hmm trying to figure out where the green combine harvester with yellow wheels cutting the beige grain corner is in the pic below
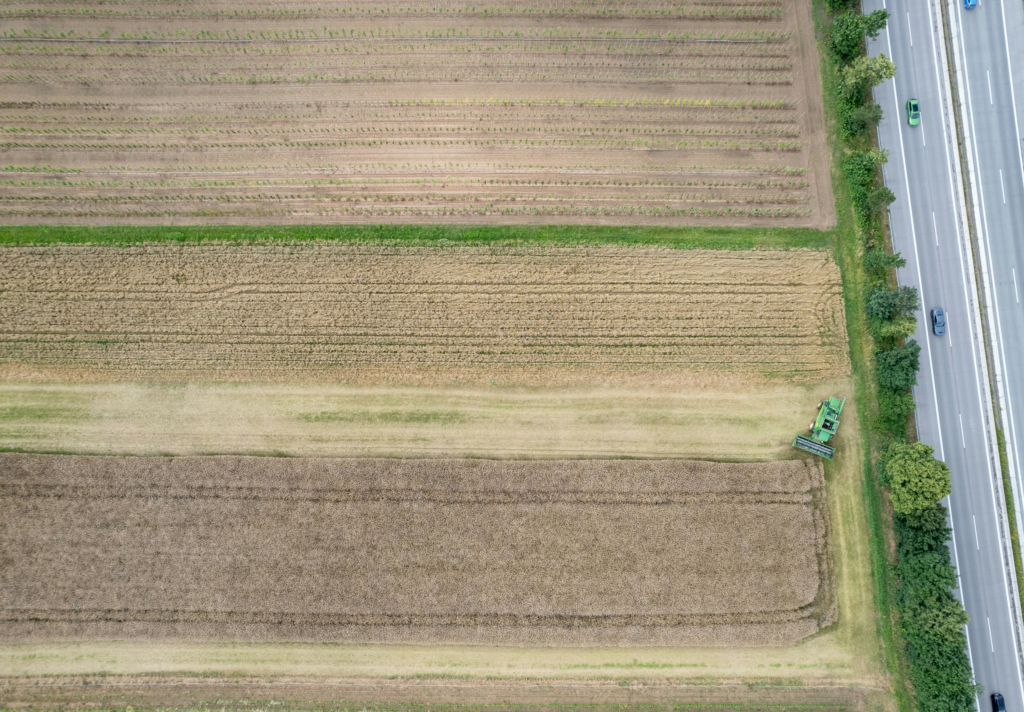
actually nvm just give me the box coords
[790,394,846,462]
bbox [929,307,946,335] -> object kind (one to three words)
car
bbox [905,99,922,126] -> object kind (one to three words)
car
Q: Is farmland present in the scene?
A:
Yes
